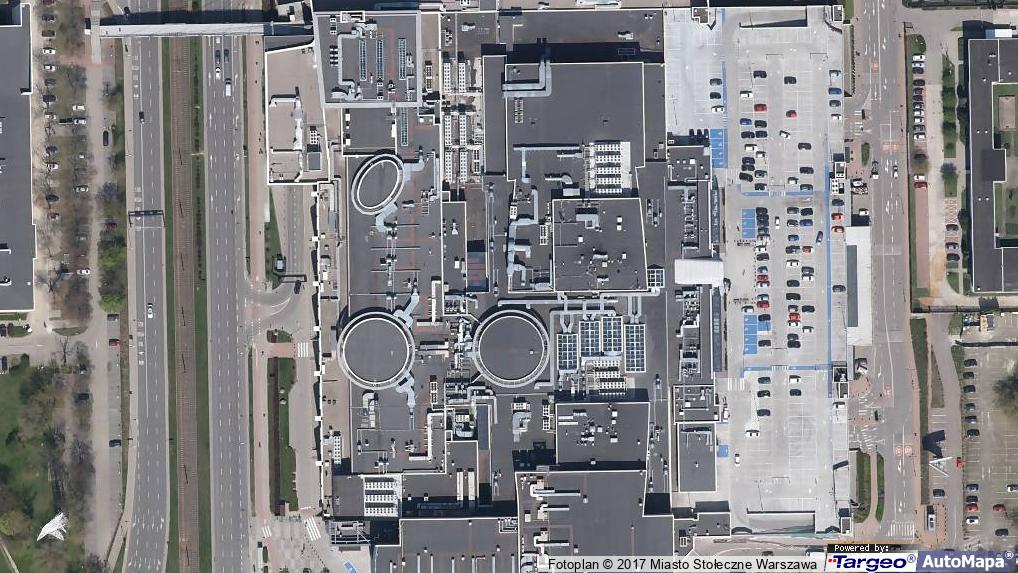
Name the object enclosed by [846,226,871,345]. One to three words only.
building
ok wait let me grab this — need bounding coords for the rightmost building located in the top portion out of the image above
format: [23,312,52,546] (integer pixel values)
[967,29,1018,292]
